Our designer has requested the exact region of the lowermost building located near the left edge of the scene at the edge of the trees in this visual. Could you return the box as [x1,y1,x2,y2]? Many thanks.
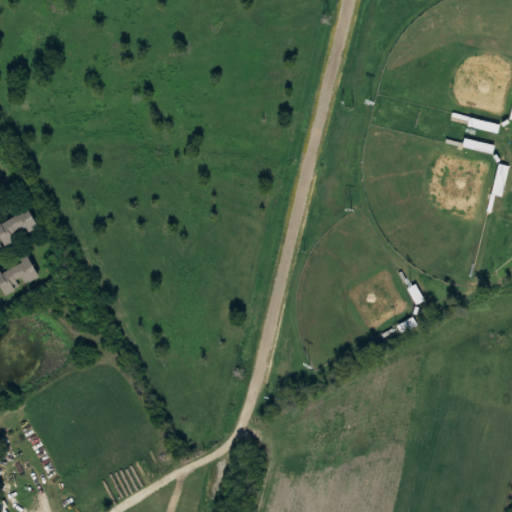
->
[0,256,40,296]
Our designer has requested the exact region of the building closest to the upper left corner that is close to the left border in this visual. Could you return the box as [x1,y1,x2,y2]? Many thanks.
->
[0,210,35,246]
